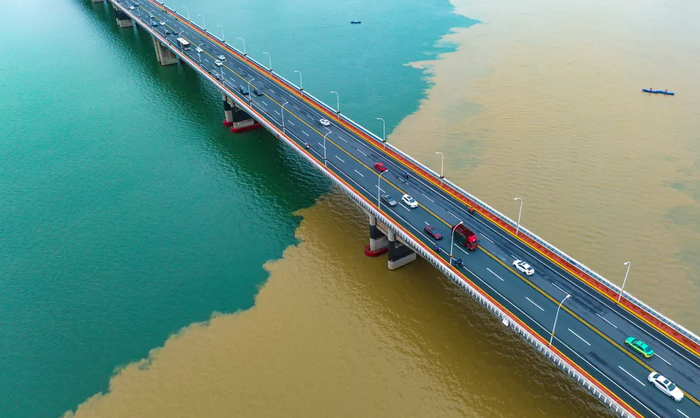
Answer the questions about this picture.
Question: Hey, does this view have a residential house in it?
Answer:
No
